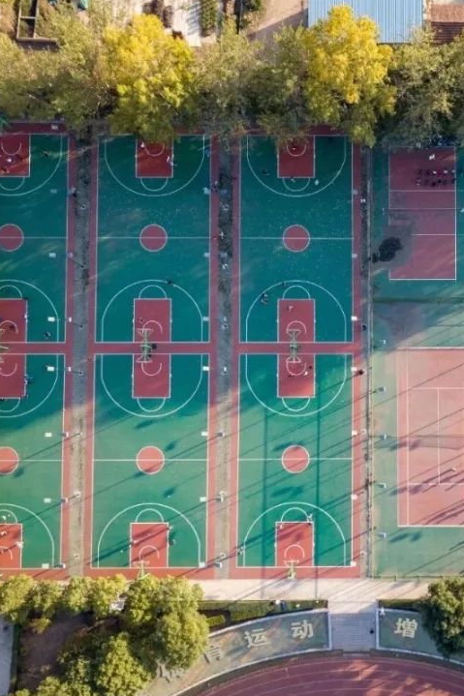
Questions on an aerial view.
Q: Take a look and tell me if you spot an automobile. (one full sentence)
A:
No, the picture doesn't show any automobile.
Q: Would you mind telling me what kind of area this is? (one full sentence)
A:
The picture captures a sports ground.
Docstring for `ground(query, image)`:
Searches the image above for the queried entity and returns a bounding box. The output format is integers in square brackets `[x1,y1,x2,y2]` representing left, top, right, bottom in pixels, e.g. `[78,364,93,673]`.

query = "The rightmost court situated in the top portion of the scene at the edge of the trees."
[375,146,457,279]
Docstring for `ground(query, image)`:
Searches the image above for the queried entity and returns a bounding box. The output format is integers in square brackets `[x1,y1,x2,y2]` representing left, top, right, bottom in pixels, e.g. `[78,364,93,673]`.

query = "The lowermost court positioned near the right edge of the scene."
[398,346,464,527]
